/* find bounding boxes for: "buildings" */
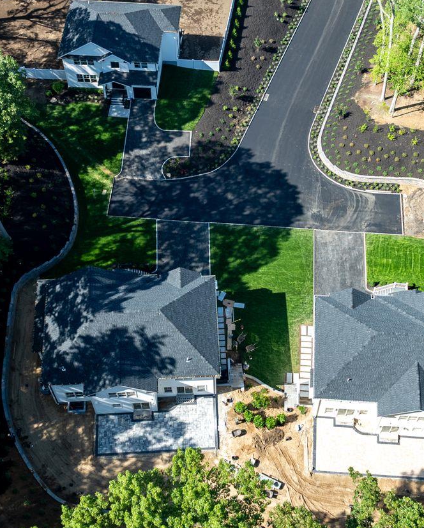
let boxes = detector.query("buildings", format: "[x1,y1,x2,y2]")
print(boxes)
[34,263,224,427]
[311,284,424,451]
[55,0,181,107]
